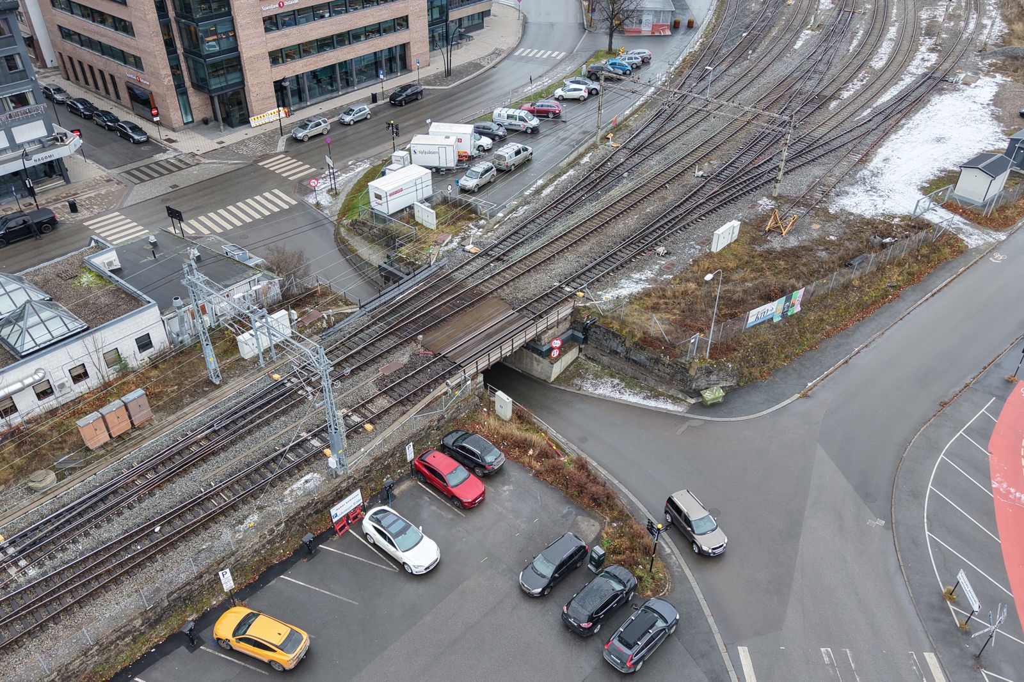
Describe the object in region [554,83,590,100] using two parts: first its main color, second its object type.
white car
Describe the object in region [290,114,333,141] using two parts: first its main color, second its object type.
gray car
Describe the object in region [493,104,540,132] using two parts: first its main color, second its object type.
white van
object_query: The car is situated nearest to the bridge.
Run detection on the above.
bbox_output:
[440,430,507,476]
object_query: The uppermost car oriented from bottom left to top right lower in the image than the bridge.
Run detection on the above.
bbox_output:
[514,528,593,599]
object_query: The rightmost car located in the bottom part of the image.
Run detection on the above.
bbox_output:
[661,487,729,557]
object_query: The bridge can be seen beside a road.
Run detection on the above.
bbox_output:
[319,246,576,426]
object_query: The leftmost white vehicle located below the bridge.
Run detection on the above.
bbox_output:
[358,505,442,576]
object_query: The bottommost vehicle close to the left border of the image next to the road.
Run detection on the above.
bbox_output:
[0,208,60,248]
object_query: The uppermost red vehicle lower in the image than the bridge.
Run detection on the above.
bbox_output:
[412,449,486,509]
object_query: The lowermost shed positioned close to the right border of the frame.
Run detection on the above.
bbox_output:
[952,156,1017,211]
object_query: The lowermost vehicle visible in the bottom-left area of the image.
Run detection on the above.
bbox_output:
[214,608,315,673]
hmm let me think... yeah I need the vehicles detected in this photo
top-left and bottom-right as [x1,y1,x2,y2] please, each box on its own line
[339,102,373,124]
[491,140,534,171]
[623,47,655,61]
[554,83,590,100]
[113,117,147,141]
[290,114,333,141]
[458,160,498,191]
[514,528,593,599]
[567,75,601,93]
[474,130,495,151]
[607,52,643,65]
[558,563,639,640]
[471,116,510,140]
[611,56,638,74]
[412,449,486,509]
[358,505,442,576]
[661,487,729,557]
[40,82,68,102]
[0,208,60,248]
[587,59,626,78]
[600,595,683,677]
[64,96,97,117]
[389,83,423,105]
[493,104,540,132]
[440,430,507,476]
[519,98,565,117]
[90,107,119,129]
[214,608,315,673]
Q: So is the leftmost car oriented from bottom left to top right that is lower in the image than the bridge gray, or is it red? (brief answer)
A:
gray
